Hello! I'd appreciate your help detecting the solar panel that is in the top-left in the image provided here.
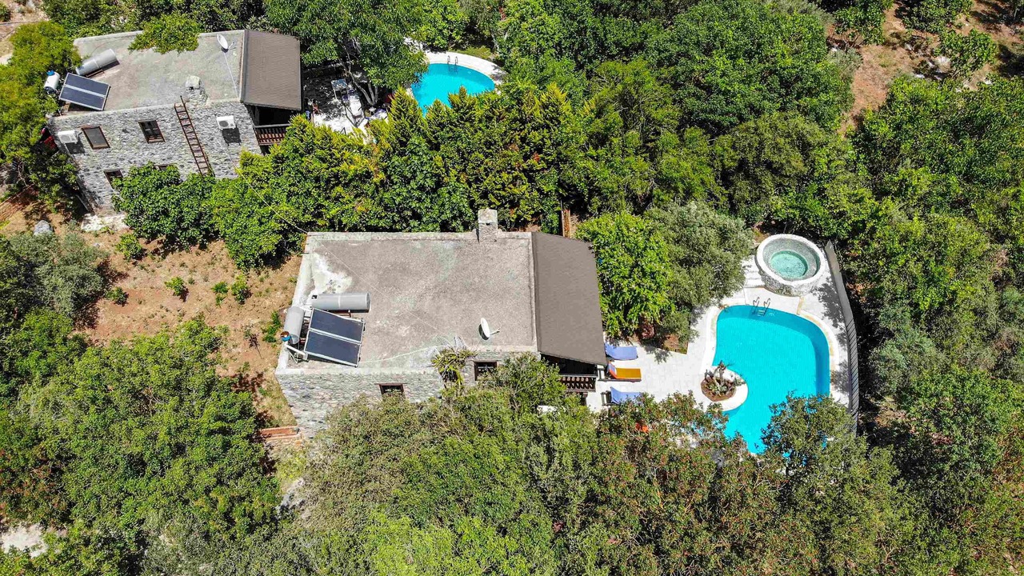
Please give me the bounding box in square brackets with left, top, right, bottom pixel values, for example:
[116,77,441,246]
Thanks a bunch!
[59,73,119,111]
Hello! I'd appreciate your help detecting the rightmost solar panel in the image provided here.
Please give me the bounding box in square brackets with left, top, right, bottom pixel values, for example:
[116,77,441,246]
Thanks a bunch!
[303,308,369,366]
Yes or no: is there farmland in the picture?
No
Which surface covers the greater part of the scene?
trees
